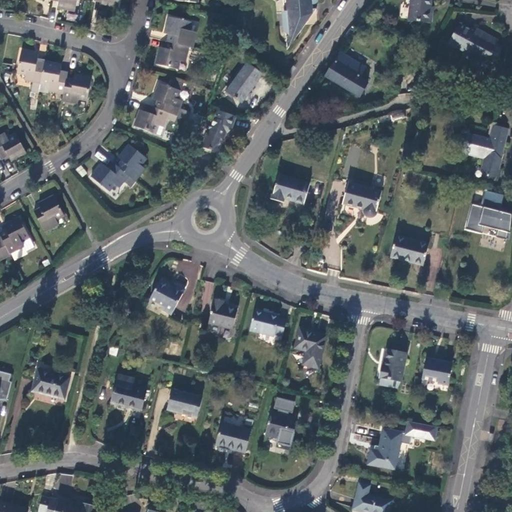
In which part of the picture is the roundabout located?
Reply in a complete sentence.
The roundabout sits in the center section of the image.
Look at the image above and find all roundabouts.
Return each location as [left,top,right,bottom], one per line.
[178,192,235,248]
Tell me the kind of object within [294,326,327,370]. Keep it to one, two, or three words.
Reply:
house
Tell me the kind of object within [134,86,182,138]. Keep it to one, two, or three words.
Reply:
house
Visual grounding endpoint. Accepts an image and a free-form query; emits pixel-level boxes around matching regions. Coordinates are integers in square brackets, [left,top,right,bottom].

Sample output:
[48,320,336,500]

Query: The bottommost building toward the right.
[352,480,390,512]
